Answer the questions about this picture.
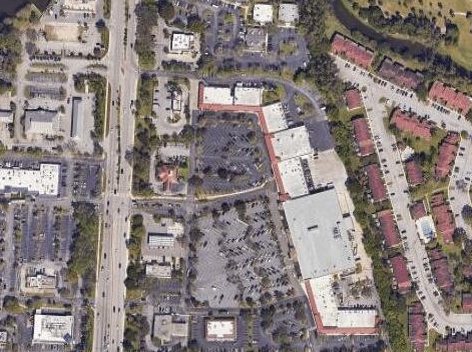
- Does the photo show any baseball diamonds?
No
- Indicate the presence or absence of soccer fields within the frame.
No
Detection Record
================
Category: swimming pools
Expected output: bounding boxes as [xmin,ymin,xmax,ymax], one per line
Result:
[417,217,436,240]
